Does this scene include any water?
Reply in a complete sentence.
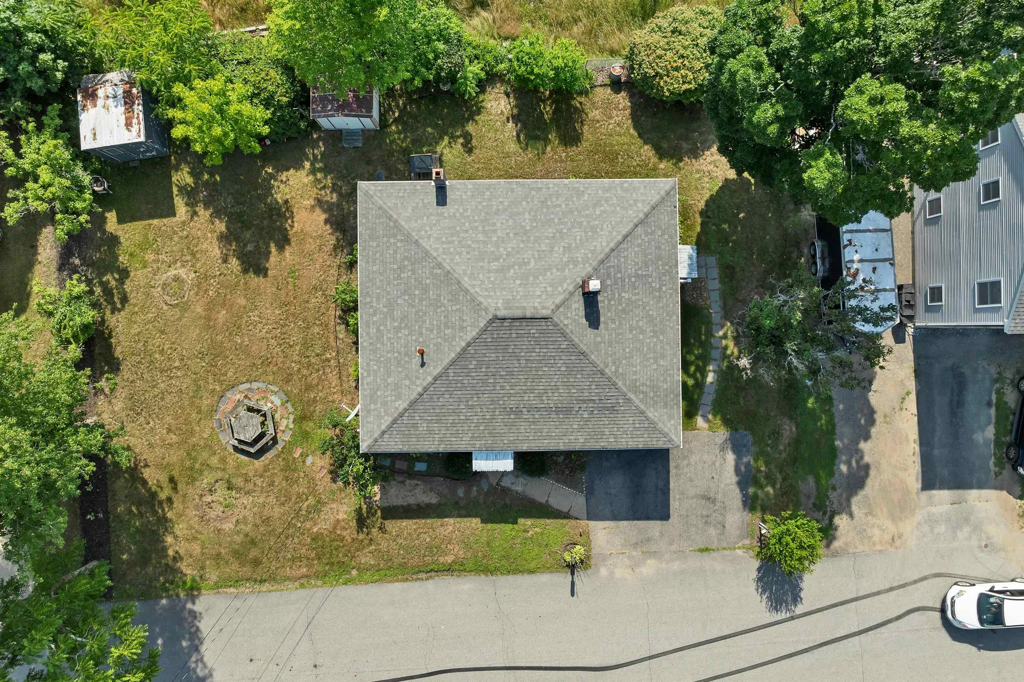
No, there is no water in the image.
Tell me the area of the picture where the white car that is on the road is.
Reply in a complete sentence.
The white car that is on the road appears toward the bottom right of the photo.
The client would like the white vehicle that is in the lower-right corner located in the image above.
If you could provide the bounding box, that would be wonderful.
[943,576,1024,637]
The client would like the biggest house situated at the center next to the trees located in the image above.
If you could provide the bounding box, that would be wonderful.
[357,160,699,472]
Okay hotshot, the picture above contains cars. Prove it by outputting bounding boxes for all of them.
[1003,371,1024,476]
[943,576,1024,637]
